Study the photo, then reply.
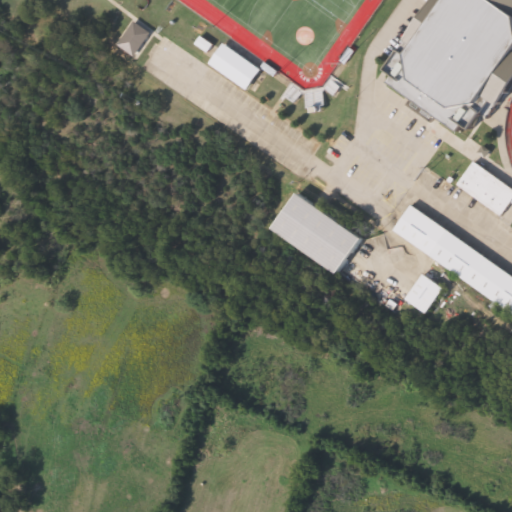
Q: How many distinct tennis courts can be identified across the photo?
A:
0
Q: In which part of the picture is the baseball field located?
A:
top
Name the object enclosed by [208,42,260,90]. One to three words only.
building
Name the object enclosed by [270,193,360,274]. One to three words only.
building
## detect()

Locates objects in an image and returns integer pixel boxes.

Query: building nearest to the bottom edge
[405,274,442,314]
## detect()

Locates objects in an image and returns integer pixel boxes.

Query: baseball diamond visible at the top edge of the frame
[180,0,384,89]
